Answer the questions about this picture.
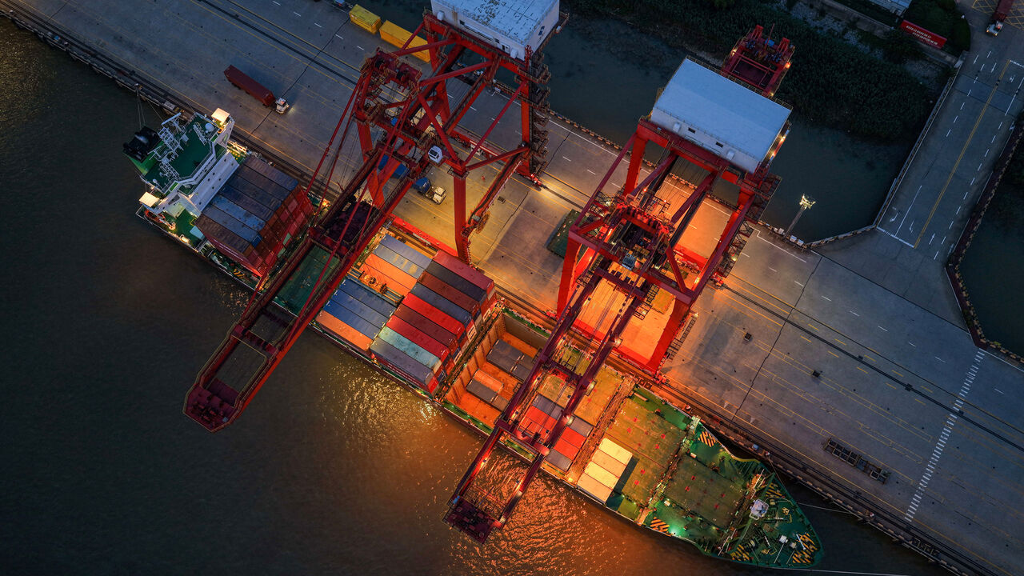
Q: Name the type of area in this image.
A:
port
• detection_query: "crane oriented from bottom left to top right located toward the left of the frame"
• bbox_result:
[172,0,581,424]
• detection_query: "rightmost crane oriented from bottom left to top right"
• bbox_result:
[432,15,797,547]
